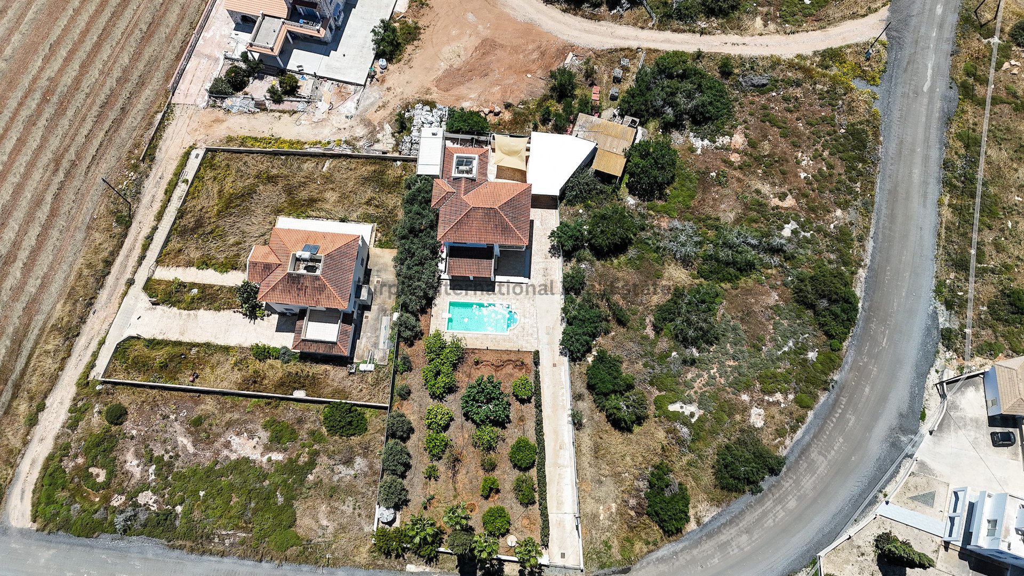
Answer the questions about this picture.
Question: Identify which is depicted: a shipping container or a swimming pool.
swimming pool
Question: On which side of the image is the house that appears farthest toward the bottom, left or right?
right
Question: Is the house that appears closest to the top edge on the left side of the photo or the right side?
left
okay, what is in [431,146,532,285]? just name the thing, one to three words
building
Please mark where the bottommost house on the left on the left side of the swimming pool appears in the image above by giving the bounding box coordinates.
[245,216,378,357]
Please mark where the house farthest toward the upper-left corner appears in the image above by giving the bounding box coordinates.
[223,0,351,69]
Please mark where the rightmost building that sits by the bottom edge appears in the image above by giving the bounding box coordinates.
[962,491,1024,571]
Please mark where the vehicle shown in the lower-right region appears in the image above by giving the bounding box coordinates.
[988,431,1017,446]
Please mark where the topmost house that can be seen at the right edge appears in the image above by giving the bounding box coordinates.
[984,364,1024,420]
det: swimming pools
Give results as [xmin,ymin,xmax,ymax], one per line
[442,301,520,334]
